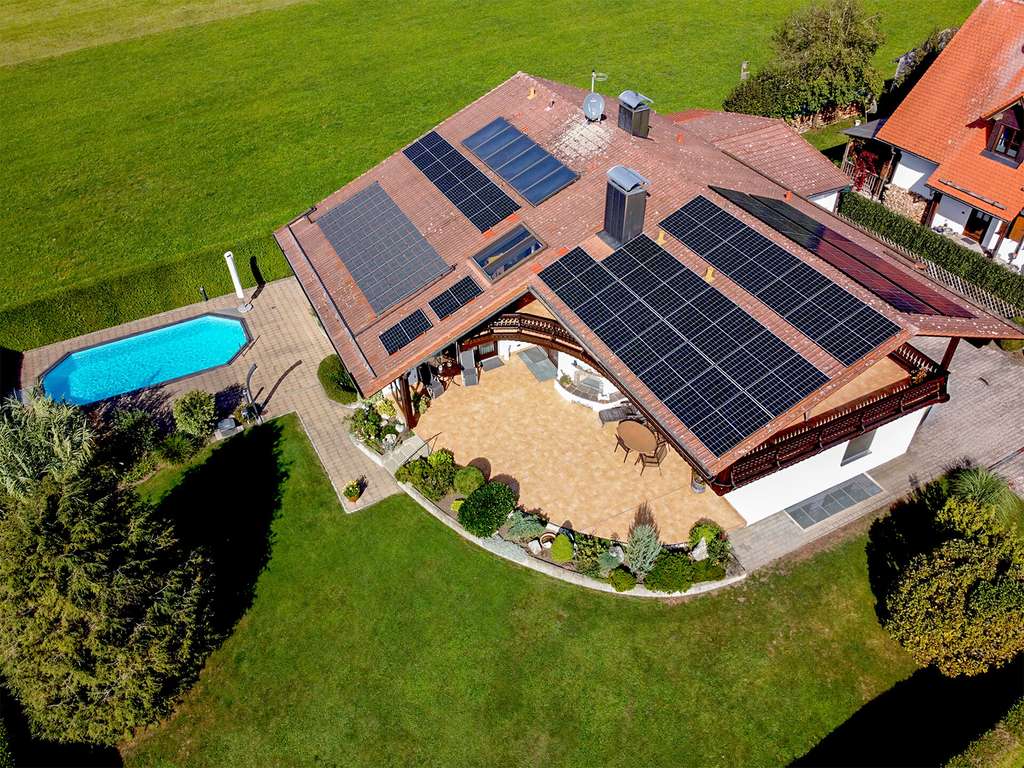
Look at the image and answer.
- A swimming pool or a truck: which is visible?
swimming pool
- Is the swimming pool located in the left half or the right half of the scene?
left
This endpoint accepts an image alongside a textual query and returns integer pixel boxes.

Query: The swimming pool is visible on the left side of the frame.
[42,311,256,405]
